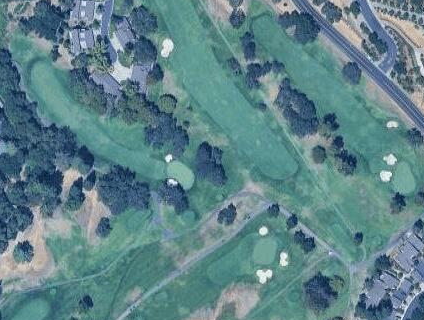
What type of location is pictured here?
golf course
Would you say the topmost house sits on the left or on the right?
left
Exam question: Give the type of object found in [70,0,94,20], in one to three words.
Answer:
house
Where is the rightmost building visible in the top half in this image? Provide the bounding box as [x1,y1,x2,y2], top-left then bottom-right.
[132,61,153,96]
